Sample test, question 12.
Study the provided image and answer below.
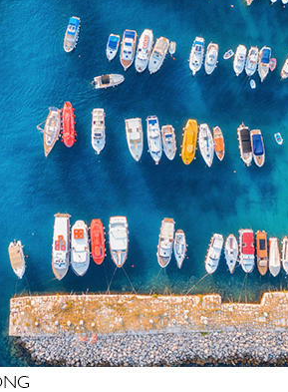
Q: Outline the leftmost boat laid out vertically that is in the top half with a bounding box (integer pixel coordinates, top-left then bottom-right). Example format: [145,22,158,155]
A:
[35,105,60,156]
